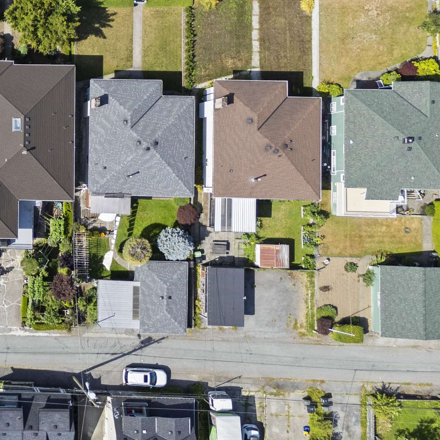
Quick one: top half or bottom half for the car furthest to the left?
bottom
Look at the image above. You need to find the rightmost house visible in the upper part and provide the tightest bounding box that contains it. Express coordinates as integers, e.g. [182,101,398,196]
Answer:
[323,80,440,217]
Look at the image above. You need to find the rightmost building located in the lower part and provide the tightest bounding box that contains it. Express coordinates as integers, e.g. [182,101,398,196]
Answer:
[370,265,440,340]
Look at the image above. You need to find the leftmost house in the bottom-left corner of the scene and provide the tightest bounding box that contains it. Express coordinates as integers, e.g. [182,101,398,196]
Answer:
[0,383,75,440]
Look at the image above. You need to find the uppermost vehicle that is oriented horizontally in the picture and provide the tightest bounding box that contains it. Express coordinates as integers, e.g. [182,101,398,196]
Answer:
[122,367,166,388]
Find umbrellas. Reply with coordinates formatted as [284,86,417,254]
[98,213,116,226]
[102,251,115,270]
